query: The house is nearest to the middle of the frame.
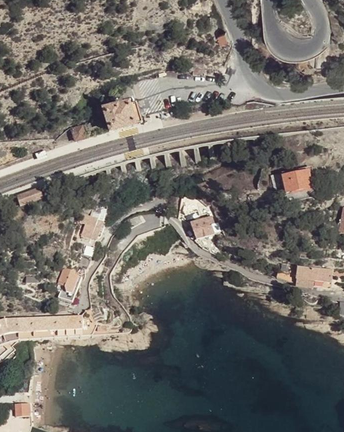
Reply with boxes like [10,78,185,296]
[185,212,222,242]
